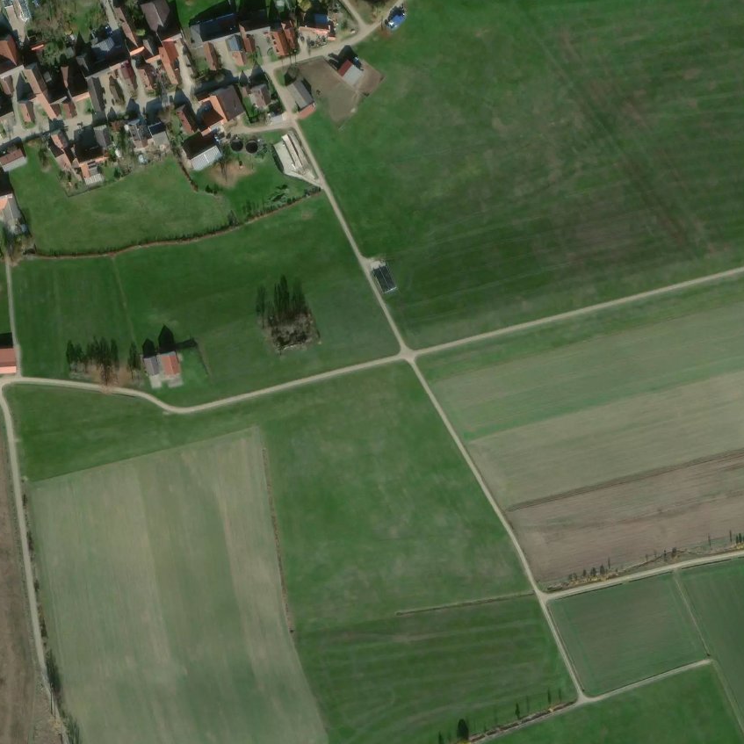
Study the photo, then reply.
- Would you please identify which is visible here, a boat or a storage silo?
storage silo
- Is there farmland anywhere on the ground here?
Yes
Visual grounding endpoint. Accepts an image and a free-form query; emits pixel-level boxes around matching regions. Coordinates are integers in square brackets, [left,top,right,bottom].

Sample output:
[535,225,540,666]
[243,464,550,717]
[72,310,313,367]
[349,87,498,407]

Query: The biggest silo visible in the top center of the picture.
[273,134,325,187]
